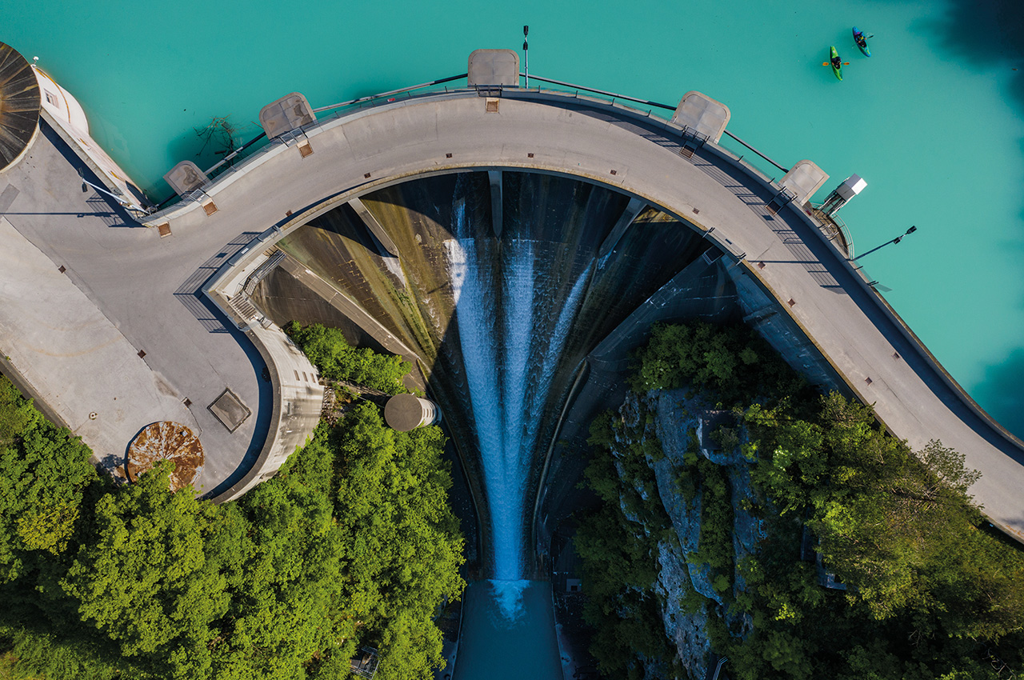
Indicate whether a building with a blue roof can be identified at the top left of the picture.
No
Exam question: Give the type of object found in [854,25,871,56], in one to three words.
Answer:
boat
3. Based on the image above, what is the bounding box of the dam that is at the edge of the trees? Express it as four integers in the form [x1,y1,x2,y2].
[147,49,1024,582]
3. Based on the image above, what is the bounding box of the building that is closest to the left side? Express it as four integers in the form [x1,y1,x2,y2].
[0,42,95,183]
